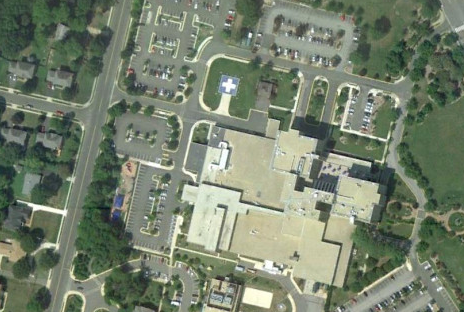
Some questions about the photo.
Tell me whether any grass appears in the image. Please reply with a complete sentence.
Yes, the picture does contain grass.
